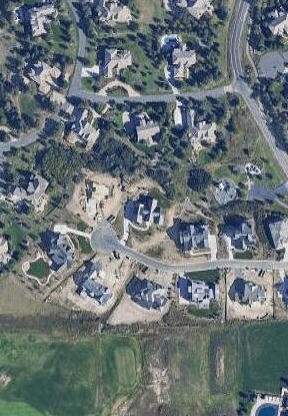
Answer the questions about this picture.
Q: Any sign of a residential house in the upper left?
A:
Yes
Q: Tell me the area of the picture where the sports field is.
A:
bottom right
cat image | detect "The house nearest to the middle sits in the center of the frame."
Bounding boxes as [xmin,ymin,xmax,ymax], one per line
[138,198,167,225]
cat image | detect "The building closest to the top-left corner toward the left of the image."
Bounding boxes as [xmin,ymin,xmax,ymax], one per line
[27,4,56,38]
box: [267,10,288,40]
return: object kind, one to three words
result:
house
